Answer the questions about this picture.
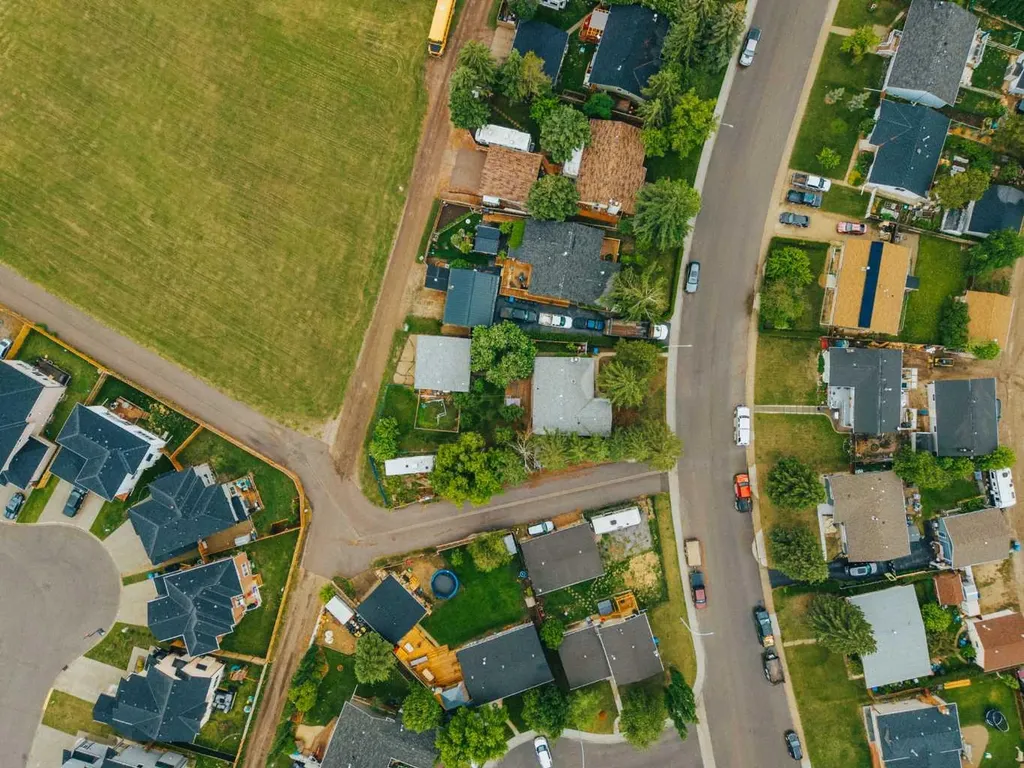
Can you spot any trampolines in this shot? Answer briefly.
Yes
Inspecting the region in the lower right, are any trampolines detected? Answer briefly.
Yes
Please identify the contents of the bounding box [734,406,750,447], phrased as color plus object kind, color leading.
white vehicle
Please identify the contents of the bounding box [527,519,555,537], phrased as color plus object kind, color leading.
white car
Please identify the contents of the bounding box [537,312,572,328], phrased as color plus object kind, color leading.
white vehicle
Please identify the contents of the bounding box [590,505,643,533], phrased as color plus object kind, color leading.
white trailer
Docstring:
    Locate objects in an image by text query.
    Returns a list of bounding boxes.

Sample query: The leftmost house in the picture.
[0,360,62,490]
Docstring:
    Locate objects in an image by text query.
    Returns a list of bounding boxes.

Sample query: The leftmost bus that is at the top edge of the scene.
[425,0,459,64]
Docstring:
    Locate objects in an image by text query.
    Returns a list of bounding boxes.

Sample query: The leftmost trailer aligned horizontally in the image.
[386,455,437,475]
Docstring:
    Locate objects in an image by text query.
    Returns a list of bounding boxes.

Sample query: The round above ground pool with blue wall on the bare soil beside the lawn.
[431,569,459,598]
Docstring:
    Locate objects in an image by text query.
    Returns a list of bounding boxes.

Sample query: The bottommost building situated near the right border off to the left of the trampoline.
[871,696,973,768]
